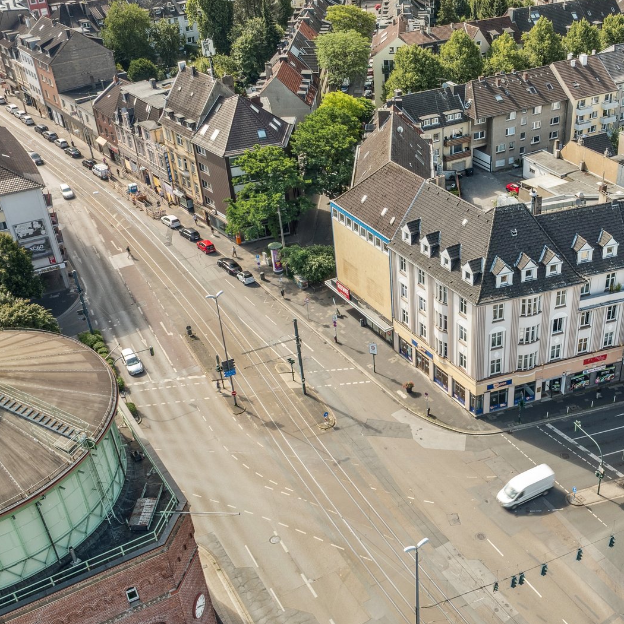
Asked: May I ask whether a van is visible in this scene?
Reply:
Yes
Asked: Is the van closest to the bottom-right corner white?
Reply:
Yes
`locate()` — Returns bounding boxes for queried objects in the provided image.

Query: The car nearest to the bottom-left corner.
[119,345,144,376]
